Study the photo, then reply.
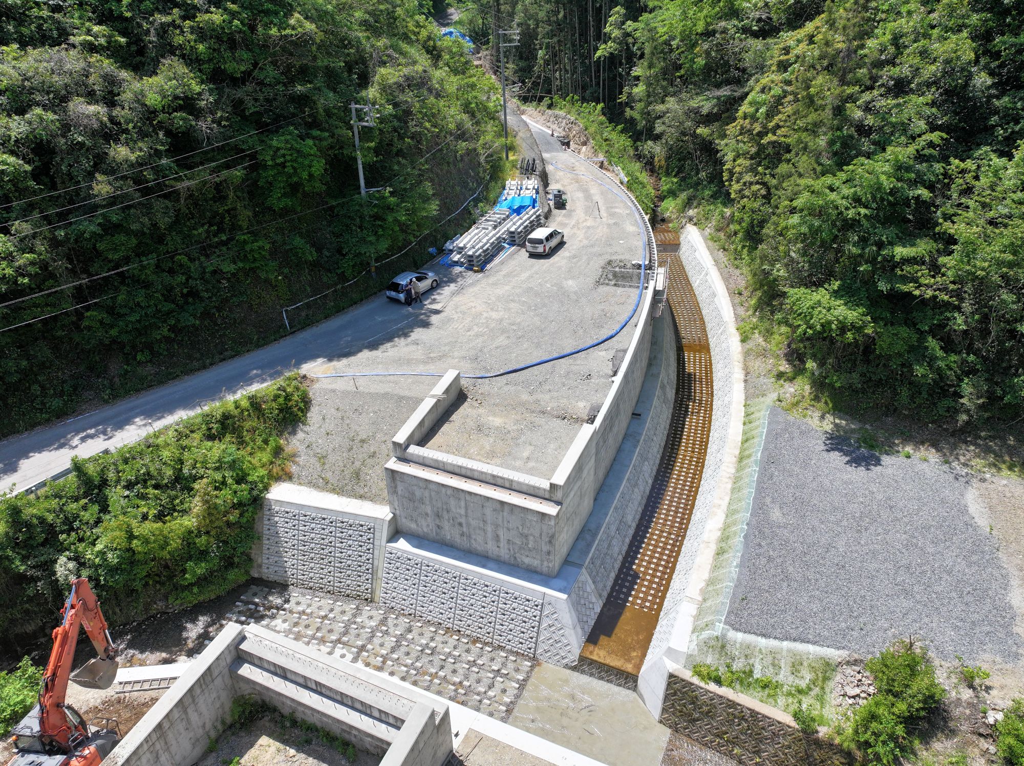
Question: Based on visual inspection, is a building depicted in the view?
No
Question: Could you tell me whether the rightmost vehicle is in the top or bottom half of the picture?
top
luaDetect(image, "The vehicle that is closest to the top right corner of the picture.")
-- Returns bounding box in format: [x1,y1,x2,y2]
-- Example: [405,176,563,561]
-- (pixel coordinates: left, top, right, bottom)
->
[524,224,567,255]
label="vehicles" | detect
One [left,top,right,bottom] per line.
[0,582,129,766]
[383,268,439,303]
[524,224,567,255]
